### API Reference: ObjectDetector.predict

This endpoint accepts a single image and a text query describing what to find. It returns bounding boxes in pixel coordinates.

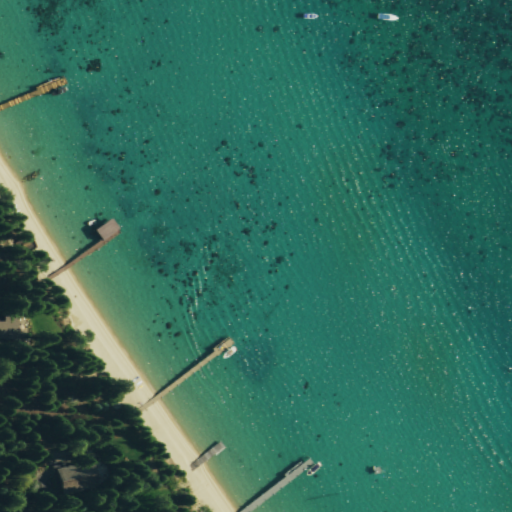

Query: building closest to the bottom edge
[58,466,84,490]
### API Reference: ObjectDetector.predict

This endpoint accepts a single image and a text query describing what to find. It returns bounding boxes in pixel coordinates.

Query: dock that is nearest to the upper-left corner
[0,74,68,110]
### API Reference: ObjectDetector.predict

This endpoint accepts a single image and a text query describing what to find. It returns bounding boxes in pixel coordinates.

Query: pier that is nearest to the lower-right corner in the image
[242,458,314,512]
